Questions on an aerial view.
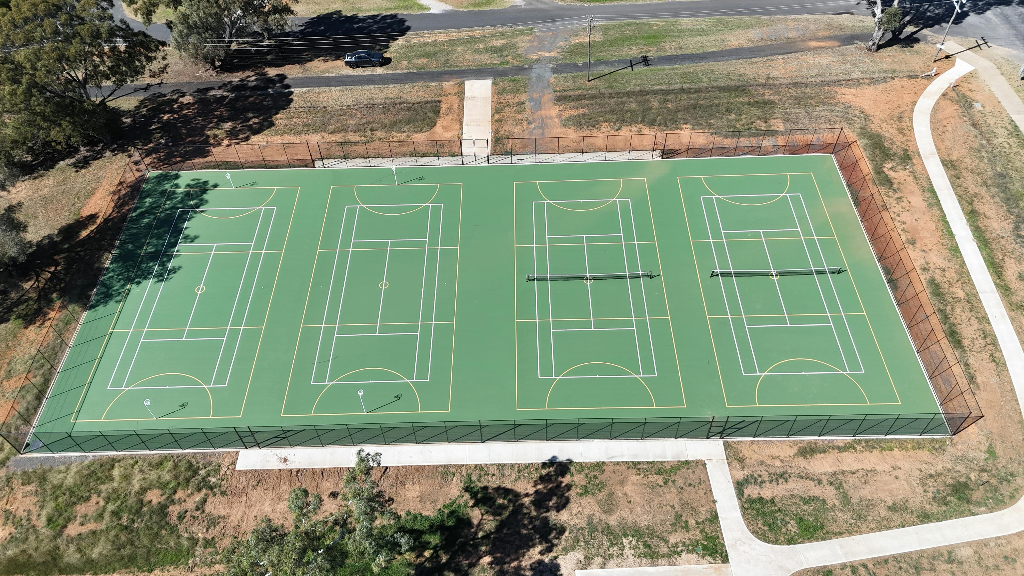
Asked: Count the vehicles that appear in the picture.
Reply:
one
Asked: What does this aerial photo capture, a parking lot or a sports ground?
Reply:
sports ground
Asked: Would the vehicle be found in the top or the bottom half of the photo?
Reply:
top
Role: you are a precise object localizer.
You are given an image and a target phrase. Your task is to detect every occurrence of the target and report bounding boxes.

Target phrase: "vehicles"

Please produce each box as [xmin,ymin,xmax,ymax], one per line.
[344,49,385,69]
